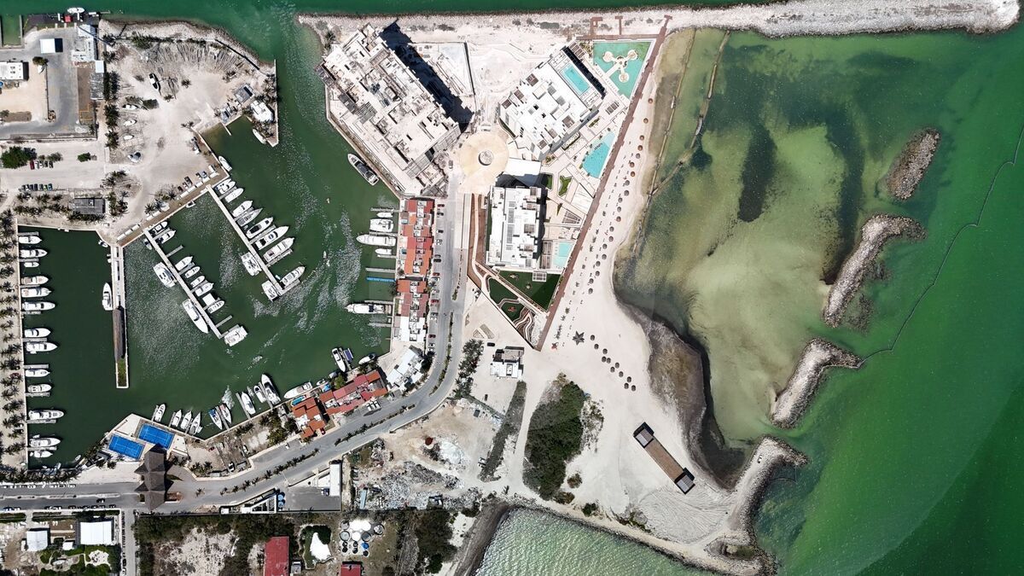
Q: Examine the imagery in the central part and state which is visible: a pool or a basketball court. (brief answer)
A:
pool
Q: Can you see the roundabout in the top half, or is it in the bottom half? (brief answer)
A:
top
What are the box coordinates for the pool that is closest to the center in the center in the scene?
[553,240,576,271]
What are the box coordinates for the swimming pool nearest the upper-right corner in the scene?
[593,40,655,99]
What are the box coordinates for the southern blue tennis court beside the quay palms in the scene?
[106,435,145,459]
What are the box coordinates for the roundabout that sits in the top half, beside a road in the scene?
[458,131,509,183]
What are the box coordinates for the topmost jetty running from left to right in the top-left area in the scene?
[24,11,111,38]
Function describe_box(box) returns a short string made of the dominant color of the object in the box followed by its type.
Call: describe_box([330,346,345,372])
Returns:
white boat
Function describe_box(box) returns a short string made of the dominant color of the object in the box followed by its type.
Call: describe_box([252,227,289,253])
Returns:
white boat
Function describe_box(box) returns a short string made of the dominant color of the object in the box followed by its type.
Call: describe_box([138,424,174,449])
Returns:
blue tennis court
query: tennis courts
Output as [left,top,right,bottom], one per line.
[106,435,145,459]
[138,424,174,449]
